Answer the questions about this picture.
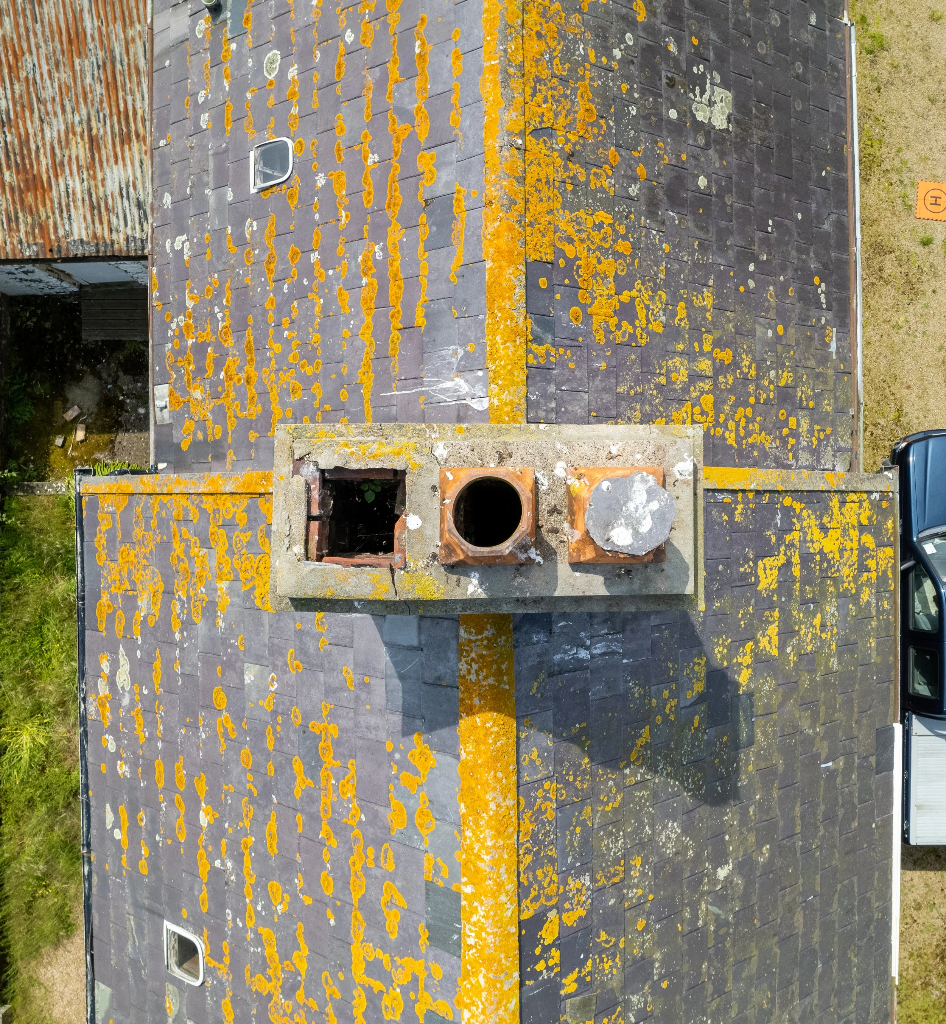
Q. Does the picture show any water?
No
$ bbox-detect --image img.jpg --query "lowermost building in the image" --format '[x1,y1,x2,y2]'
[75,465,902,1024]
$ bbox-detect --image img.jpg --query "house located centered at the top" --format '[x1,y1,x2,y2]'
[106,0,868,477]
